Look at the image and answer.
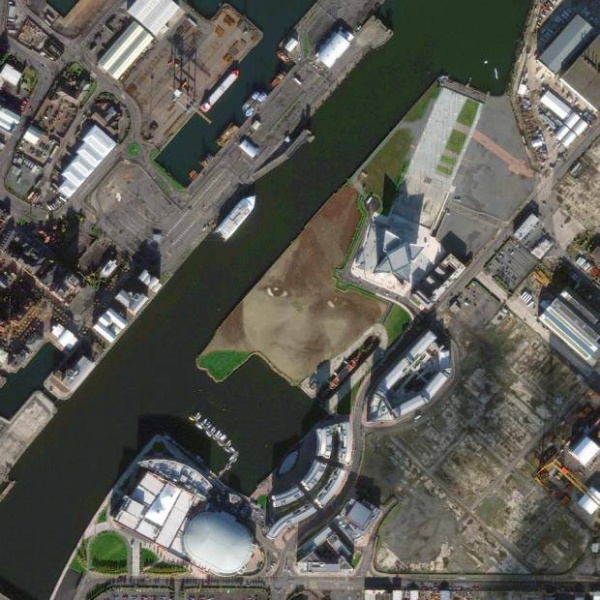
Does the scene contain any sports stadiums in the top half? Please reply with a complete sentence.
No, I can find no sports stadium in the top half.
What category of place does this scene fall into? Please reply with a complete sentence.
It's a port.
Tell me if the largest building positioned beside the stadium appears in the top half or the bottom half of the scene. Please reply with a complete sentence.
The largest building positioned beside the stadium sits in the bottom half of the picture.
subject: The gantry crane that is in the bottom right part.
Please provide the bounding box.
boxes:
[535,452,600,508]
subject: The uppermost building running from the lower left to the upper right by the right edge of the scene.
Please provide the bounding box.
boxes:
[539,14,592,76]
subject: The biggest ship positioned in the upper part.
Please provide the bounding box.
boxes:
[217,196,255,240]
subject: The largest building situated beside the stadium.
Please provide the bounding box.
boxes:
[108,469,205,560]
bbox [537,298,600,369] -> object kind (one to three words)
building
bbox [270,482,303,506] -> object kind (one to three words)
building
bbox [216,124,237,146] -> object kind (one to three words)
ship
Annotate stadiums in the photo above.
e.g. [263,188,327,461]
[183,510,254,581]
